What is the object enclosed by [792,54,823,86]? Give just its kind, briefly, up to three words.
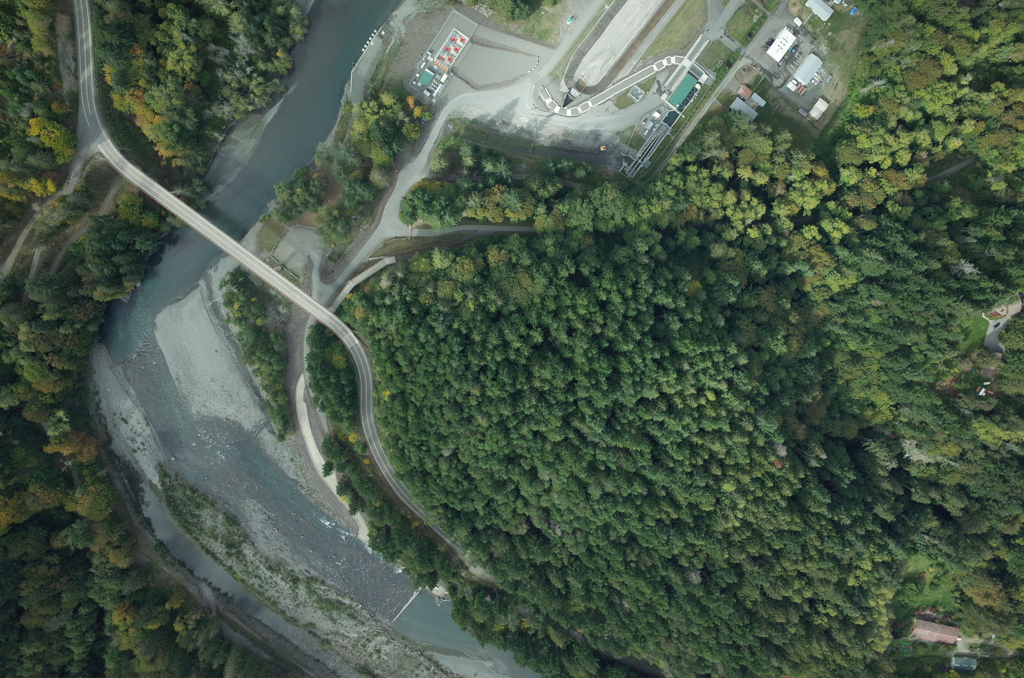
barn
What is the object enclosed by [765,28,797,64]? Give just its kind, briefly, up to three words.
building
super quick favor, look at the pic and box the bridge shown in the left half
[96,137,361,350]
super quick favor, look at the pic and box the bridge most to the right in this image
[663,34,709,92]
